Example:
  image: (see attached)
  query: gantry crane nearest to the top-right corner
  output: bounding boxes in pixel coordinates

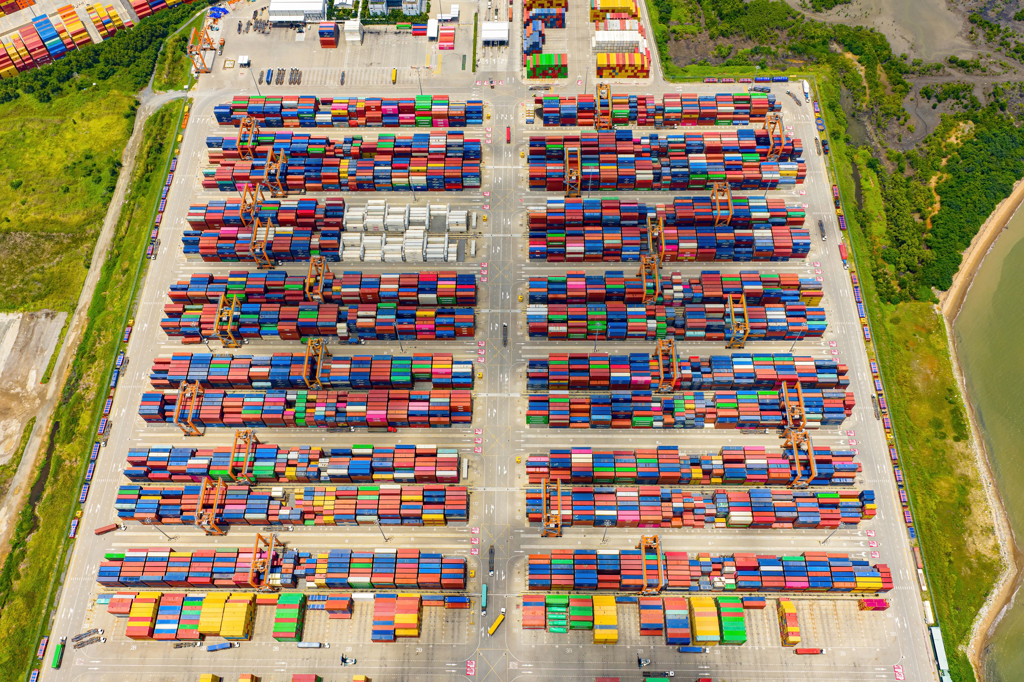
[763,115,789,164]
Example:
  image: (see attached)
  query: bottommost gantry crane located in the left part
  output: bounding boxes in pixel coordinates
[246,532,286,594]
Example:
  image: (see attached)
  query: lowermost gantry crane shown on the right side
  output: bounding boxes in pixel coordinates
[634,533,665,596]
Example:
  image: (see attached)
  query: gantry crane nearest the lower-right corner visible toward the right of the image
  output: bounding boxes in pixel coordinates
[778,430,816,489]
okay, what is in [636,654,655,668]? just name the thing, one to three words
work vehicle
